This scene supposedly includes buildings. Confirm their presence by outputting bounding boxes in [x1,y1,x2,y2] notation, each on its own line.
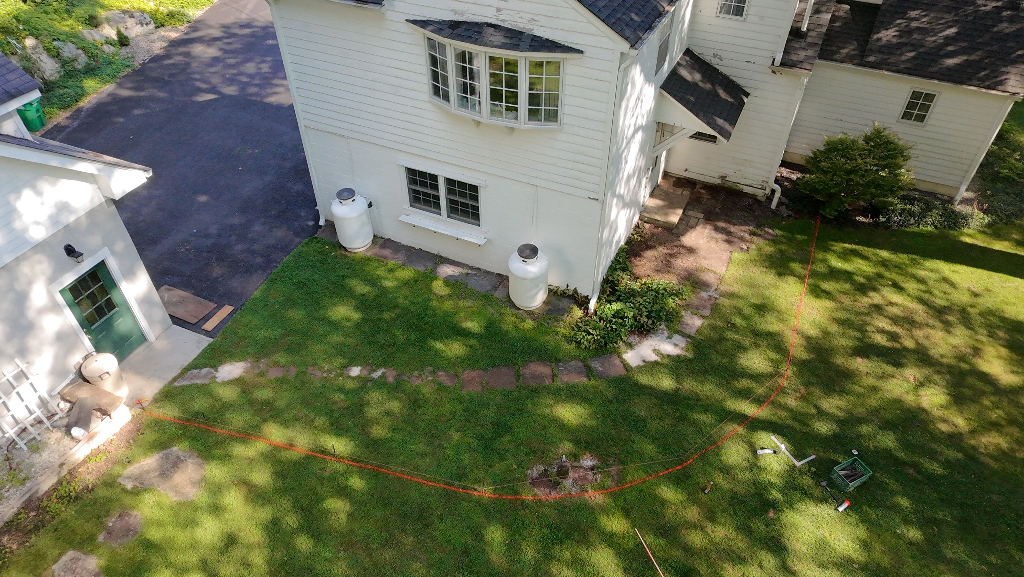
[0,43,171,463]
[244,0,1024,302]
